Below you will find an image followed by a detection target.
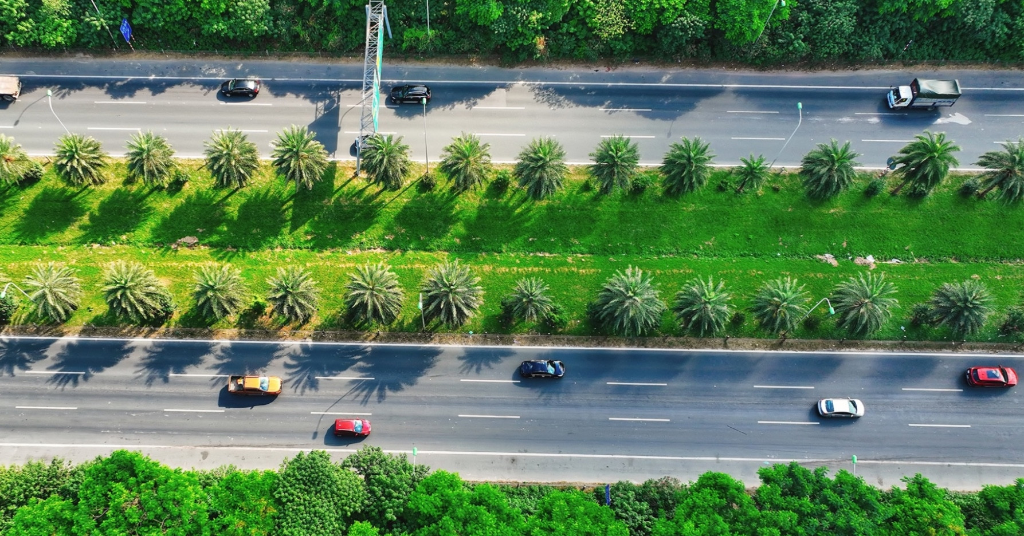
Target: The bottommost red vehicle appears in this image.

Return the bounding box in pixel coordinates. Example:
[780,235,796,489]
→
[334,417,373,438]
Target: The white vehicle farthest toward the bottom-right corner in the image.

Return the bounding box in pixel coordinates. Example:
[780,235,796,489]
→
[815,396,864,418]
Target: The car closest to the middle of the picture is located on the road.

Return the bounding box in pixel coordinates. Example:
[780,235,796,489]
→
[520,357,566,379]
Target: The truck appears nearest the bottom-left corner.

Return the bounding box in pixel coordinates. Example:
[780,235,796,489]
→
[227,373,284,396]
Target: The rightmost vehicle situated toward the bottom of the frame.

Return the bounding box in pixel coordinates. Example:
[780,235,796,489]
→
[964,364,1016,387]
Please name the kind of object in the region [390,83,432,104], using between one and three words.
car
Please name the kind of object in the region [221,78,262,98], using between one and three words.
car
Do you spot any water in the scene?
No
